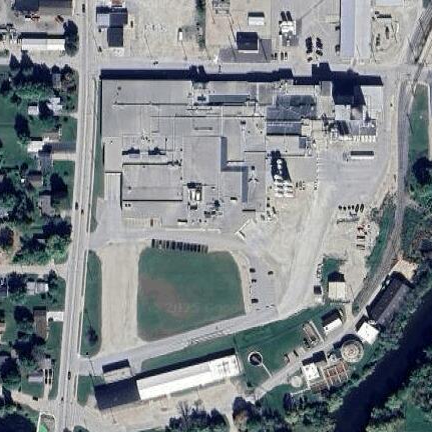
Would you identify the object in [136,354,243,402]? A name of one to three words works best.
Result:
building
